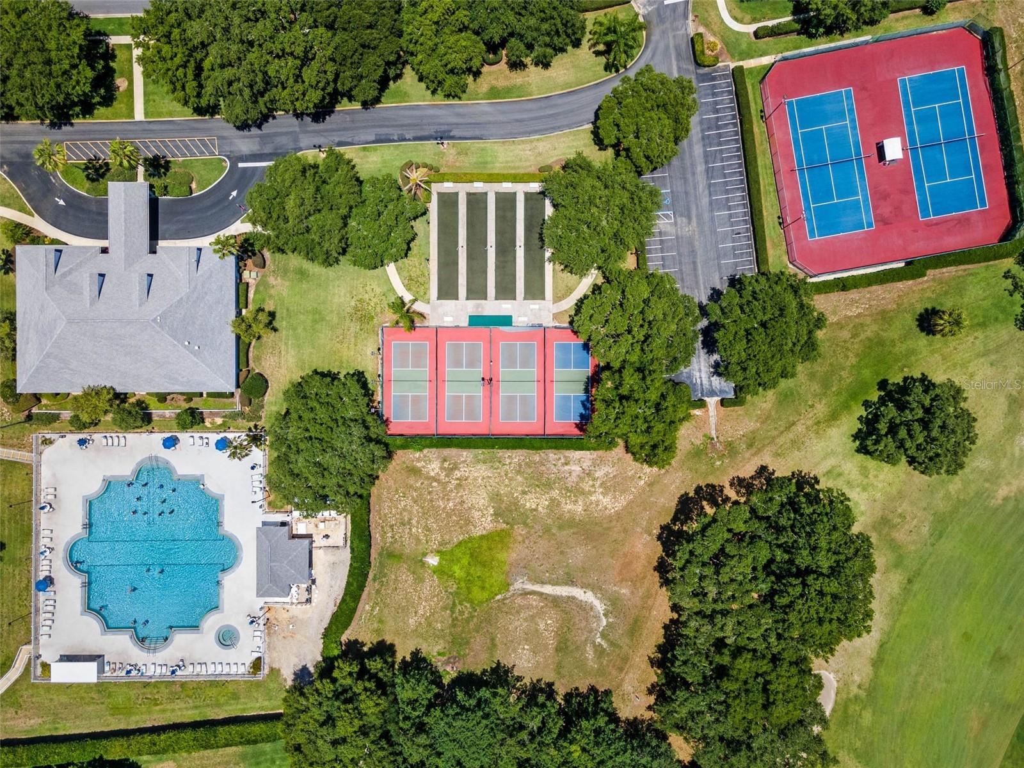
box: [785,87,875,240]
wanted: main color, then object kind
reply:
blue tennis court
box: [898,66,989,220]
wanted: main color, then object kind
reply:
blue tennis court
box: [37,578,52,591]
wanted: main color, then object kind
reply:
blue umbrella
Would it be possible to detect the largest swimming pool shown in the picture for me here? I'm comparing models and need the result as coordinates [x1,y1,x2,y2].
[62,455,243,657]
